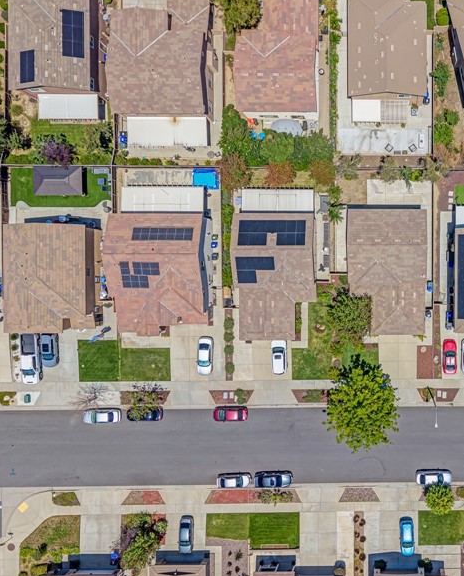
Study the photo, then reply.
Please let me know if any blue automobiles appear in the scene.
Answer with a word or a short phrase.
Yes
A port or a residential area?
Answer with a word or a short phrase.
residential area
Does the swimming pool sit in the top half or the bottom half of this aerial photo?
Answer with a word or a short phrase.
top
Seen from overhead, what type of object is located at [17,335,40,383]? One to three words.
truck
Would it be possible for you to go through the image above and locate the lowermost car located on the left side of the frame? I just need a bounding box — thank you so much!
[176,516,194,553]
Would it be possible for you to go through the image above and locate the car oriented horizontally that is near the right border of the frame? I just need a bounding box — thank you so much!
[415,469,452,486]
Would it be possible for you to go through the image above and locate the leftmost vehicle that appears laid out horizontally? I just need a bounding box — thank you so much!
[83,408,121,426]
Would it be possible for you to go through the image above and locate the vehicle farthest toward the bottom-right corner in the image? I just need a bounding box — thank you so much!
[397,517,416,555]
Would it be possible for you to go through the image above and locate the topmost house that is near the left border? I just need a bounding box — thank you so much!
[8,0,106,122]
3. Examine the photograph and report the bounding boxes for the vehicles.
[269,340,287,374]
[17,335,40,383]
[415,469,452,486]
[83,408,121,426]
[213,406,249,424]
[254,470,292,489]
[397,517,416,555]
[176,516,194,553]
[195,336,213,375]
[37,332,58,368]
[215,472,253,490]
[441,338,459,375]
[127,406,165,423]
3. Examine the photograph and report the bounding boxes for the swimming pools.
[192,169,225,192]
